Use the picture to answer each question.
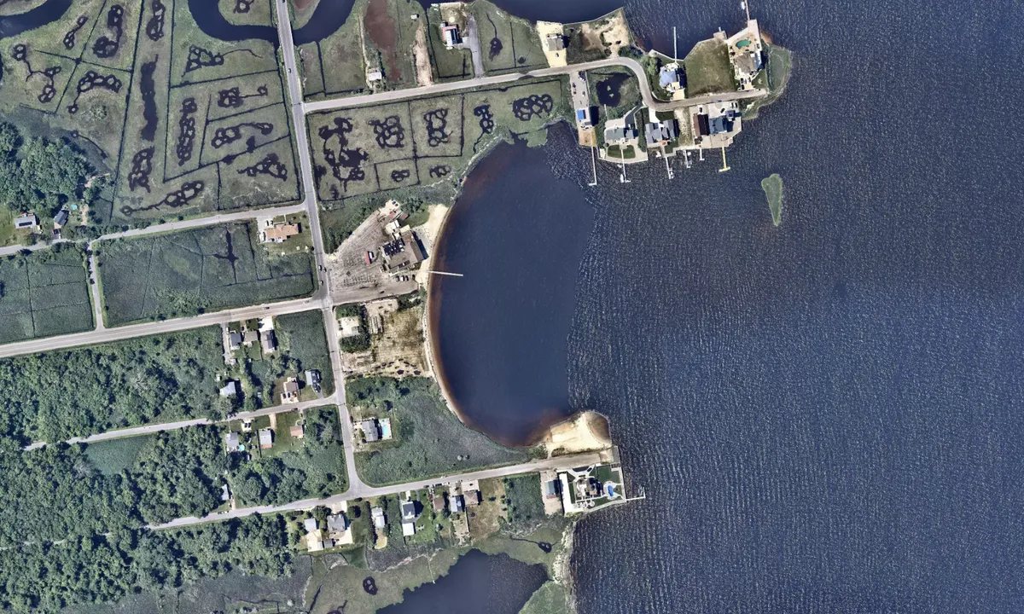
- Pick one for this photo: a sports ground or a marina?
marina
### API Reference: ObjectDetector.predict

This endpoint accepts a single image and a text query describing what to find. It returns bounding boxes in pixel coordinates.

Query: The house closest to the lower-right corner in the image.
[577,476,602,498]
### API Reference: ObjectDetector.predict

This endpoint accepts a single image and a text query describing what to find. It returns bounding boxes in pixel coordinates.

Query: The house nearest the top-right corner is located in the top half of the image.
[736,50,763,71]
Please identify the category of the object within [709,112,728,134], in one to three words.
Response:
house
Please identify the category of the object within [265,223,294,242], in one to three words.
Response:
house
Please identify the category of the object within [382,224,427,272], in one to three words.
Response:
building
